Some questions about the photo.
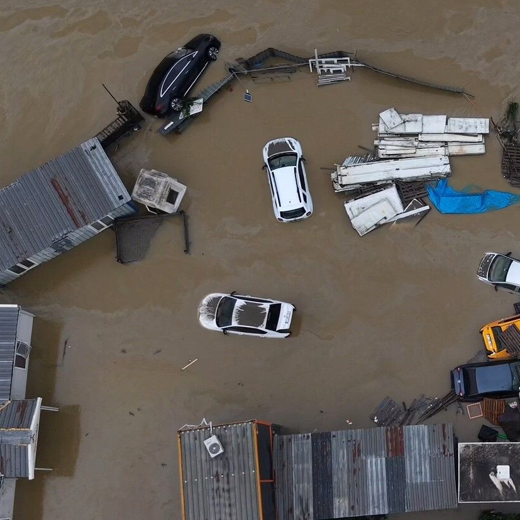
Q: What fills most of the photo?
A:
water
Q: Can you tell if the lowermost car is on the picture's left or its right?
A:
right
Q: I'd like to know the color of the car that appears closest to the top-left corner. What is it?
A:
black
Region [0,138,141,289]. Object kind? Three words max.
building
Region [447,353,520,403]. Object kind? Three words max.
car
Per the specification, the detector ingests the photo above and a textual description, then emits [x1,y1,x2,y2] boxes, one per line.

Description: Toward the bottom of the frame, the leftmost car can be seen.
[199,290,297,342]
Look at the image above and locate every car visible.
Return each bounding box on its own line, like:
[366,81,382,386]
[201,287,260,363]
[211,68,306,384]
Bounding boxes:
[261,137,315,226]
[447,353,520,403]
[137,35,211,116]
[476,310,520,358]
[474,249,520,300]
[199,290,297,342]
